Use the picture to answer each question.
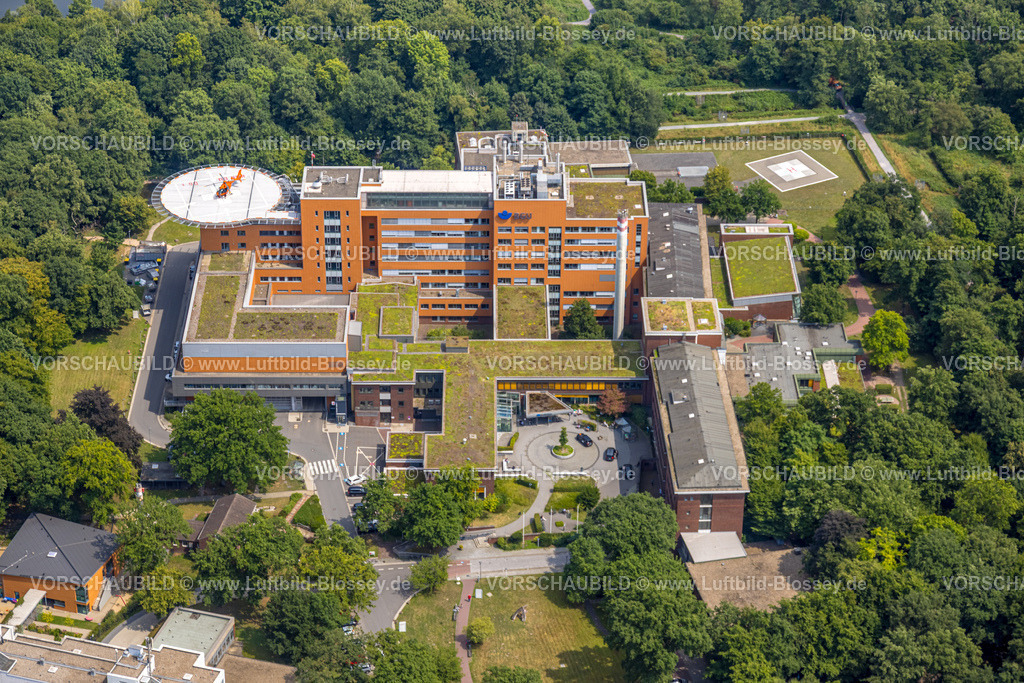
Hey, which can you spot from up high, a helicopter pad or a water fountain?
helicopter pad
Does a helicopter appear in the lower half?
No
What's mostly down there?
trees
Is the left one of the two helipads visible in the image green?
No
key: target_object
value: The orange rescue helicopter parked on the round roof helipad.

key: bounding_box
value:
[204,164,249,197]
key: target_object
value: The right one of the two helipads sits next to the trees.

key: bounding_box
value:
[745,150,839,192]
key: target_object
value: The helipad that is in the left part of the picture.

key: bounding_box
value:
[148,161,303,230]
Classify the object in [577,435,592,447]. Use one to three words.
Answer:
vehicle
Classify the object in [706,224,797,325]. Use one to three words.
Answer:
building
